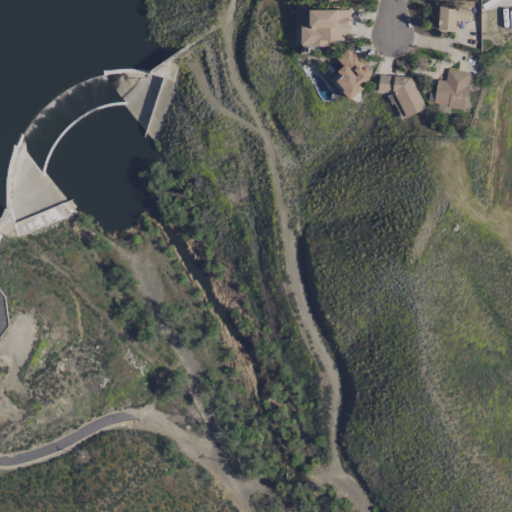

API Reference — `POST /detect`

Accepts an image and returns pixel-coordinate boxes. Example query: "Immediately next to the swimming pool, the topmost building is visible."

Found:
[302,9,352,47]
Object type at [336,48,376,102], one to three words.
house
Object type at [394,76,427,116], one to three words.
house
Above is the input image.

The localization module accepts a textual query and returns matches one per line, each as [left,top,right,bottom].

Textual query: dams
[0,38,204,240]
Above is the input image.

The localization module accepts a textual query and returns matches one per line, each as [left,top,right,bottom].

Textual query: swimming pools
[312,65,334,101]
